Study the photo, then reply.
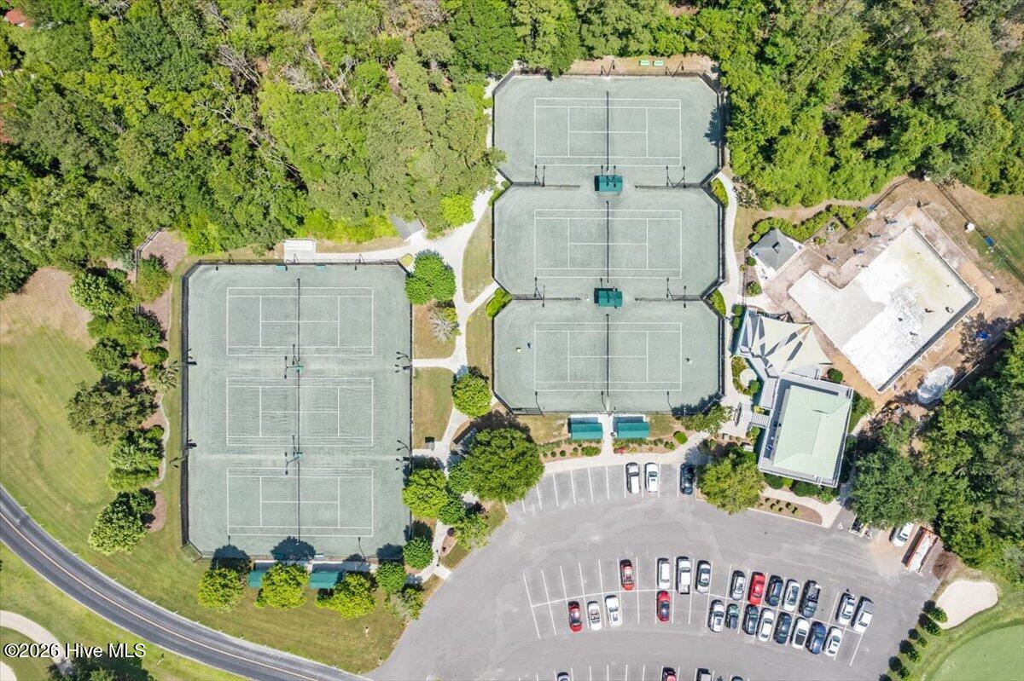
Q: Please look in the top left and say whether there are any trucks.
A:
No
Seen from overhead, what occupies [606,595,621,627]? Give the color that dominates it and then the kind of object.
white car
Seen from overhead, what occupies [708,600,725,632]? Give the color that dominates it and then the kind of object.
white car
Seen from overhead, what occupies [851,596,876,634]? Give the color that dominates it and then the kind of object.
white truck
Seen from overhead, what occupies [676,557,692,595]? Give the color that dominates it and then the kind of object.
white vehicle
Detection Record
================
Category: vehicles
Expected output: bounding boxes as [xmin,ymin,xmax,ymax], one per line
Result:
[851,596,876,634]
[558,674,570,681]
[657,590,671,621]
[621,559,636,590]
[807,622,827,653]
[800,579,820,617]
[697,671,712,681]
[725,603,740,630]
[774,612,792,644]
[890,519,916,548]
[748,572,765,604]
[625,462,640,495]
[568,602,582,630]
[741,604,759,636]
[836,593,855,624]
[766,575,784,606]
[708,600,725,632]
[587,601,601,631]
[676,557,692,595]
[823,625,841,657]
[679,464,694,494]
[782,579,799,610]
[657,557,671,589]
[791,619,808,647]
[757,608,774,640]
[695,561,710,591]
[645,462,659,493]
[730,571,745,598]
[606,595,621,627]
